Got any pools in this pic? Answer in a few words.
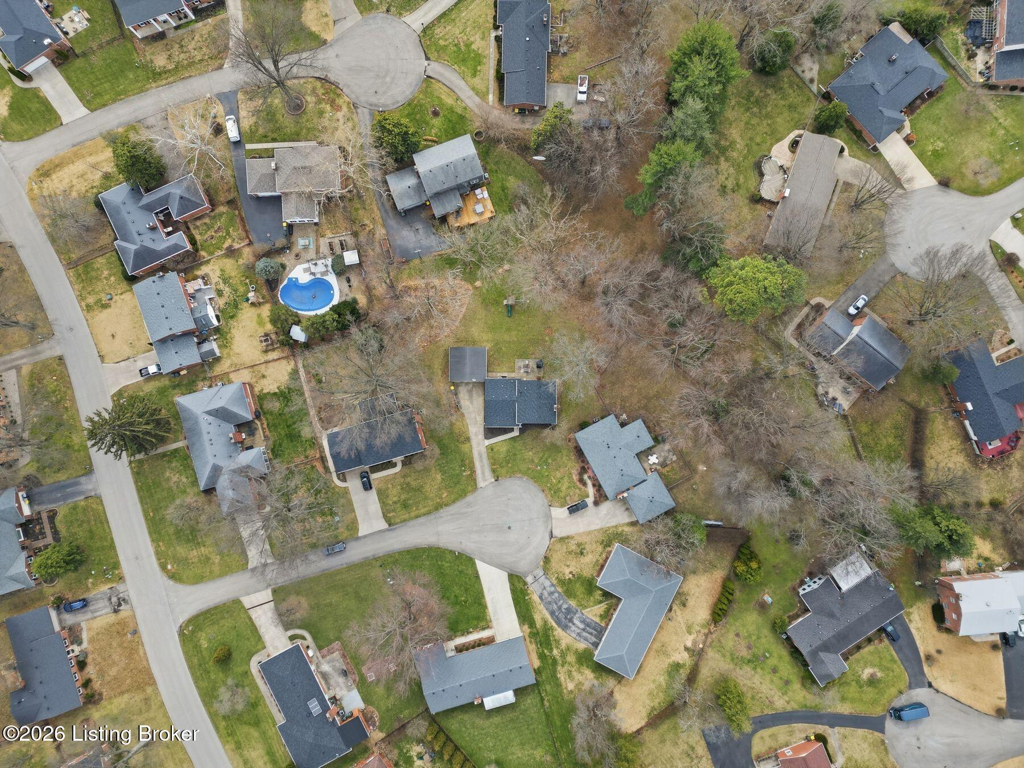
Yes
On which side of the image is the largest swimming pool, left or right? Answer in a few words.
left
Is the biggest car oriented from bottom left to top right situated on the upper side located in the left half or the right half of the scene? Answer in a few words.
right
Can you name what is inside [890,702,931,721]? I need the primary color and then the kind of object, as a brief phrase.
blue vehicle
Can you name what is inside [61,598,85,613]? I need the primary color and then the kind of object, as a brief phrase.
blue car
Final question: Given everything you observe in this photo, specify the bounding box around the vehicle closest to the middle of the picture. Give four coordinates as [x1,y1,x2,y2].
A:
[567,500,590,515]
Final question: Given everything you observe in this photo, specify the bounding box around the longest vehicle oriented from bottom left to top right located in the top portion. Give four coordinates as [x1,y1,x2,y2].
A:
[848,293,870,315]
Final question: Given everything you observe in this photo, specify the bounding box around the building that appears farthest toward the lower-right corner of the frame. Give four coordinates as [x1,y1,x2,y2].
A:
[936,563,1024,637]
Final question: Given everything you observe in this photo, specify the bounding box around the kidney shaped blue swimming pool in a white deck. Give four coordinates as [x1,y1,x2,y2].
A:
[279,260,339,314]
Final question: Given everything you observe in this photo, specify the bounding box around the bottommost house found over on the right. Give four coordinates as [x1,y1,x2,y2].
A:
[776,736,833,768]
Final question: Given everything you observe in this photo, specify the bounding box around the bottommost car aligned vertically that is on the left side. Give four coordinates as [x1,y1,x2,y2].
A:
[359,471,372,493]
